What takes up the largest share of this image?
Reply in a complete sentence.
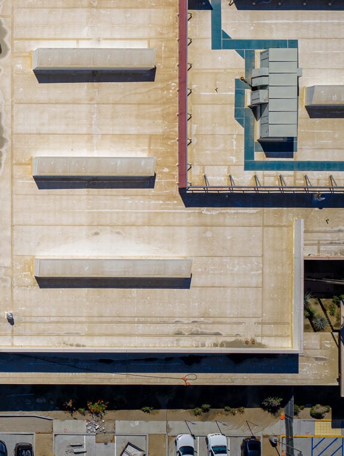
Most of the picture is covered by buildings.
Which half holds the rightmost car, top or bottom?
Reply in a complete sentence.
The rightmost car is in the bottom half of the image.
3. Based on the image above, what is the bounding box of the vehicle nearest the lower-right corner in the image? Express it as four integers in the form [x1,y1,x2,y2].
[241,434,271,456]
